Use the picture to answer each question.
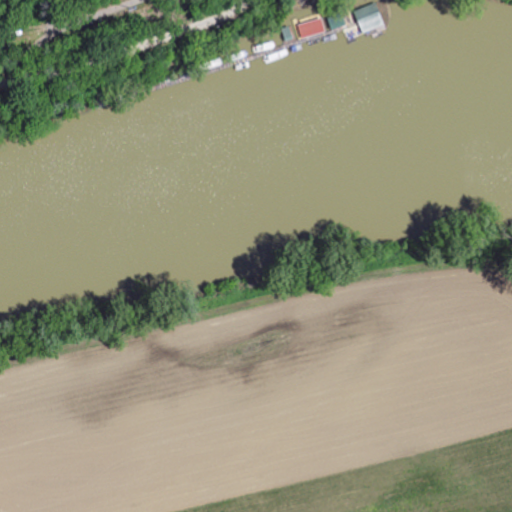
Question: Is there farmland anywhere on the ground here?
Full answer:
Yes, farmland can be seen from above here.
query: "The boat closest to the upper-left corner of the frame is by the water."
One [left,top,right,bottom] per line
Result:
[204,60,221,72]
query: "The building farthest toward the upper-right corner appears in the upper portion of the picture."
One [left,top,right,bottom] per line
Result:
[353,4,386,39]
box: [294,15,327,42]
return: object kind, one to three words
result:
house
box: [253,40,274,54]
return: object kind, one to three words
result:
boat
